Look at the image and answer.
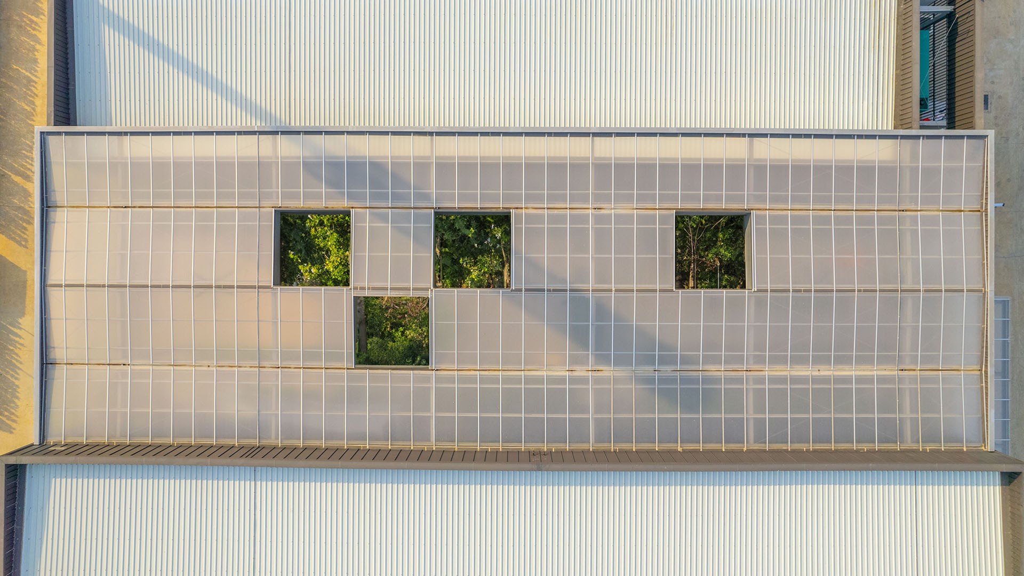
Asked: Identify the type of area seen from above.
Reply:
industrial area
